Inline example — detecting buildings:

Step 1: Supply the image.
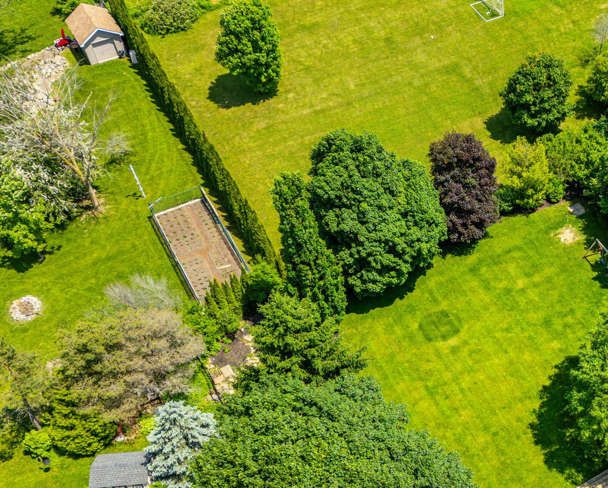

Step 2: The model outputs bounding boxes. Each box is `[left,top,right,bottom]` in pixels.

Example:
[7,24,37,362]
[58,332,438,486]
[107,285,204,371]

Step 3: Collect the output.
[86,449,164,488]
[60,1,128,66]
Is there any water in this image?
No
